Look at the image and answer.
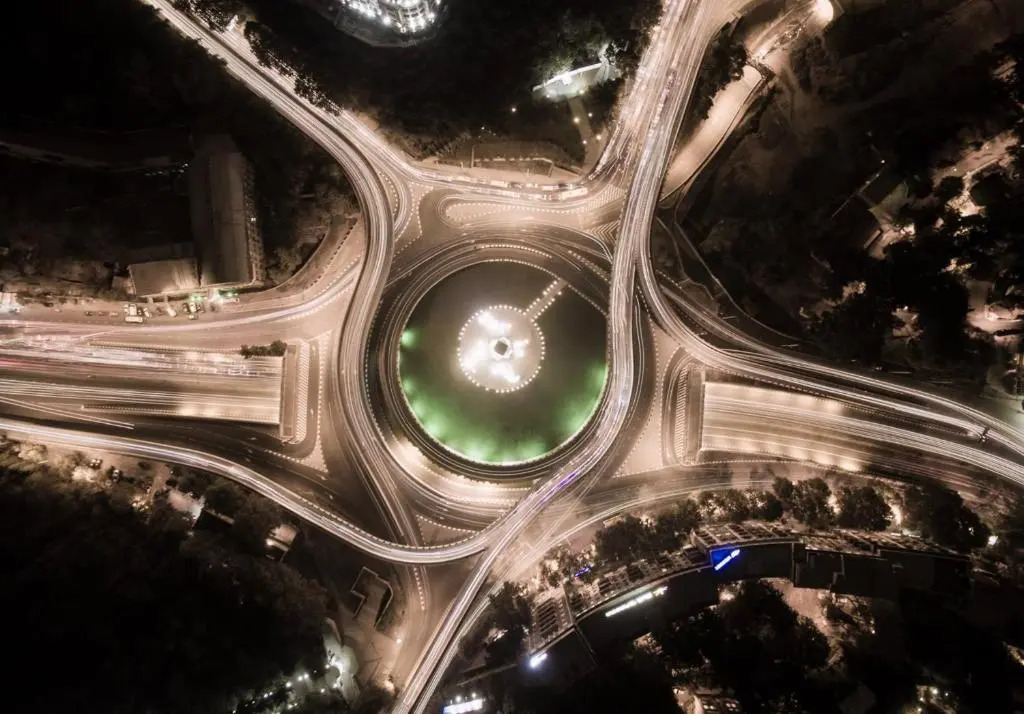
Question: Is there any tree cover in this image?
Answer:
Yes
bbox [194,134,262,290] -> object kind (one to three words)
building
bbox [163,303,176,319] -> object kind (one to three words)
vehicle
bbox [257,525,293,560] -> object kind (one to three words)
house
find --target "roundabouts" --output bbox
[361,212,635,514]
